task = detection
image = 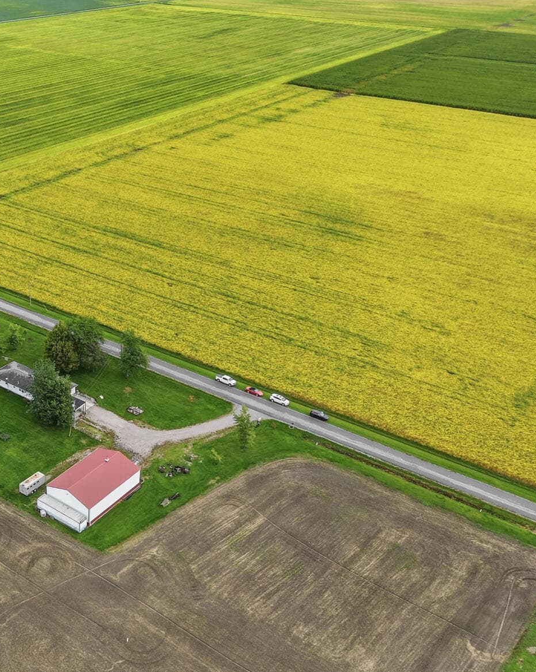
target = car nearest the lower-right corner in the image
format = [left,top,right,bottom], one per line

[308,407,330,421]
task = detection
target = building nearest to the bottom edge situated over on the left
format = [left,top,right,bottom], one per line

[45,448,142,527]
